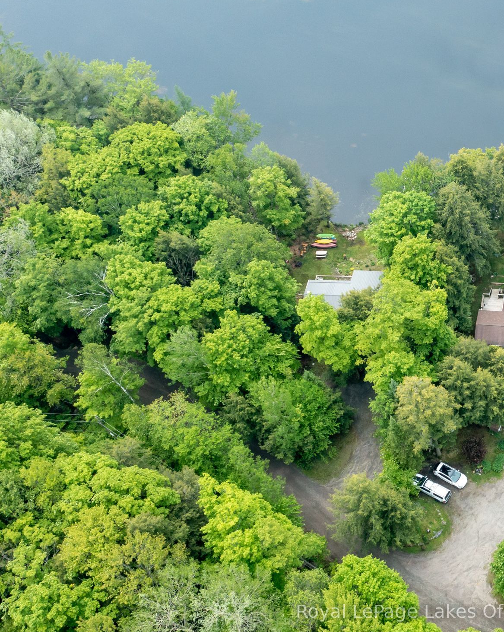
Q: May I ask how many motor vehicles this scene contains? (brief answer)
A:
2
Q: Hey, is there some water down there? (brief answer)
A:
Yes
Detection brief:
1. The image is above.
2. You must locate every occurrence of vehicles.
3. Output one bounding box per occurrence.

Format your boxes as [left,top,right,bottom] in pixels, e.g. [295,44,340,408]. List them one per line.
[410,471,454,504]
[431,462,469,491]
